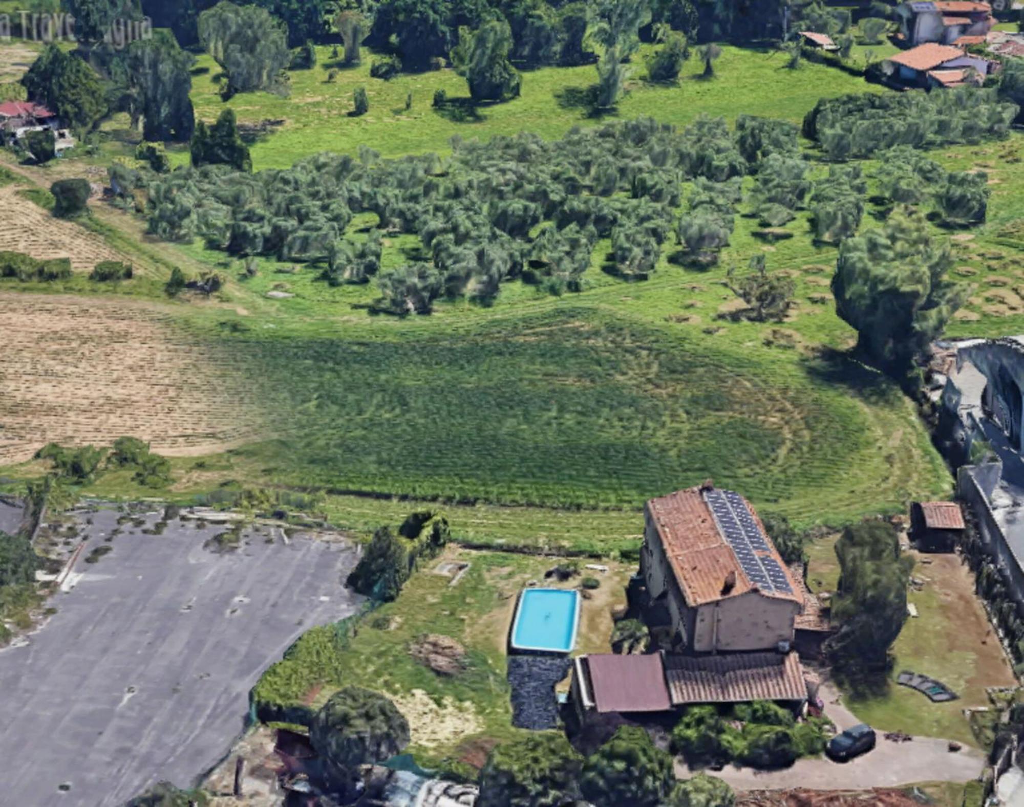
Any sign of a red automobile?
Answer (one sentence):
No, there appears to be no red automobile in this shot.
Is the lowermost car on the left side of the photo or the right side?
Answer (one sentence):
You can find the lowermost car on the right side of the picture.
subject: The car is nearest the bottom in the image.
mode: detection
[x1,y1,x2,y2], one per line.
[828,724,877,762]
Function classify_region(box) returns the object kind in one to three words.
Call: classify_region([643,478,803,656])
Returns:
house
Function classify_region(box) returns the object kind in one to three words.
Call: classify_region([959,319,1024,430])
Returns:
hangar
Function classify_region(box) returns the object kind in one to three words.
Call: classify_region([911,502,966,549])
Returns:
shed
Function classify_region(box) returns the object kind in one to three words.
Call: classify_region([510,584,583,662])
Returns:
swimming pool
